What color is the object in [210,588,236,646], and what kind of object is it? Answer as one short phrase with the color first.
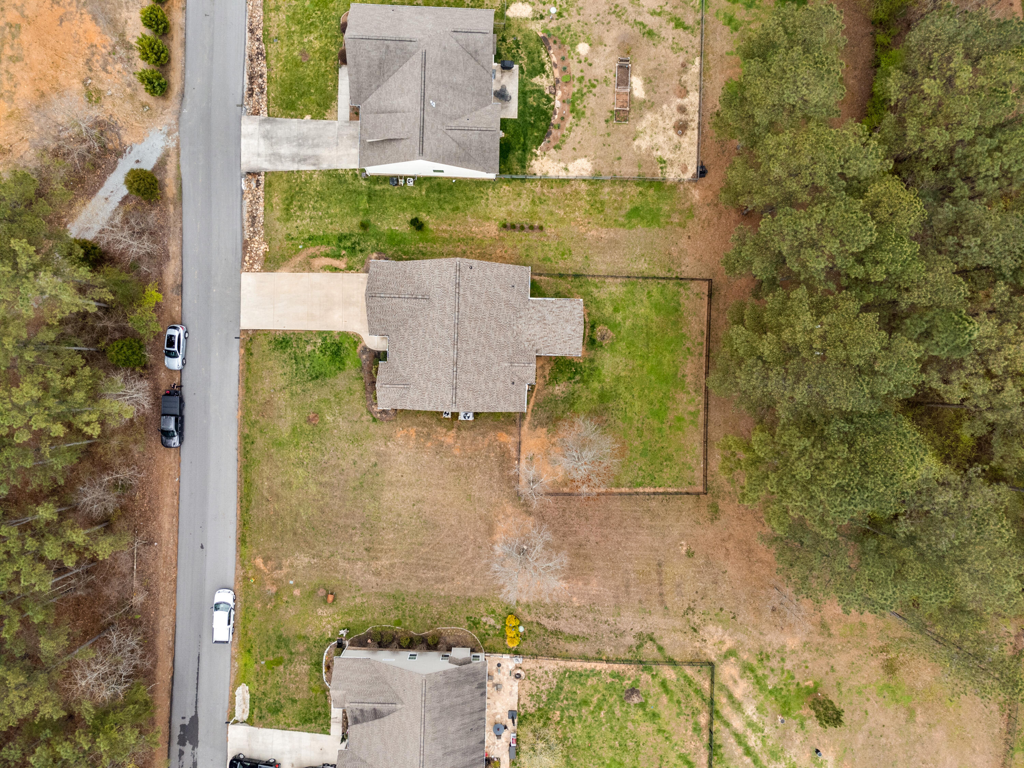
white truck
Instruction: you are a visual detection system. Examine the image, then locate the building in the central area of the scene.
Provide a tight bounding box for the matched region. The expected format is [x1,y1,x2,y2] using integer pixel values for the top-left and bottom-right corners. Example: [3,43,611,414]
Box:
[365,258,583,412]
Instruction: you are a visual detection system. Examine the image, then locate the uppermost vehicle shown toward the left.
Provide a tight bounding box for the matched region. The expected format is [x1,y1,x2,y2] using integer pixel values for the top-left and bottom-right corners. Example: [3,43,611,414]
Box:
[161,325,189,371]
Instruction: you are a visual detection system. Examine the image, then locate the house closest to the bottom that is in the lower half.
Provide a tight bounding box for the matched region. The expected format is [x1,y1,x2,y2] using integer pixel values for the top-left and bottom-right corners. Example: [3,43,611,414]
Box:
[329,645,489,768]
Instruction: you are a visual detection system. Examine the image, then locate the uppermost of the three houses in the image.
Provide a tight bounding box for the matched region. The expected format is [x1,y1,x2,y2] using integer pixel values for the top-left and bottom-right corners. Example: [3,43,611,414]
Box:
[346,3,503,183]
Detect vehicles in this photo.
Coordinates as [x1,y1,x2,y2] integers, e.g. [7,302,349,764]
[158,388,186,449]
[161,325,189,371]
[210,588,236,646]
[227,756,280,768]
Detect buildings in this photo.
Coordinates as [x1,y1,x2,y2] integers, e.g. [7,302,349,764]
[365,258,583,412]
[346,3,503,183]
[329,645,489,768]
